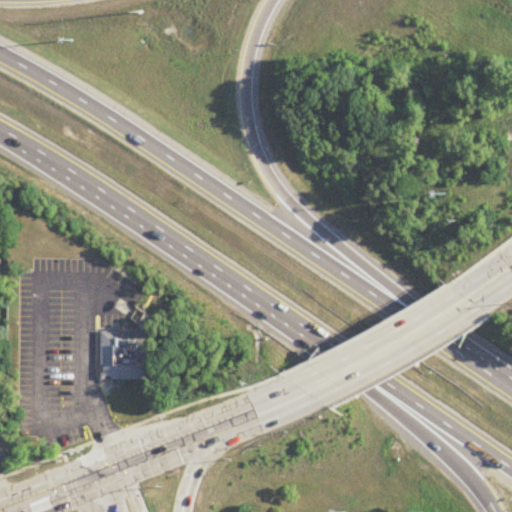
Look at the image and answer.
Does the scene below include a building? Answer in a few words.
Yes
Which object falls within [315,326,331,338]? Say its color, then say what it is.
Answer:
white vehicle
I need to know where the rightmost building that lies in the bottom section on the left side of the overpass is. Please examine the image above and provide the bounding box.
[100,330,146,383]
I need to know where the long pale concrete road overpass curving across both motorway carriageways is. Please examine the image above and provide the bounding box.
[248,241,512,436]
